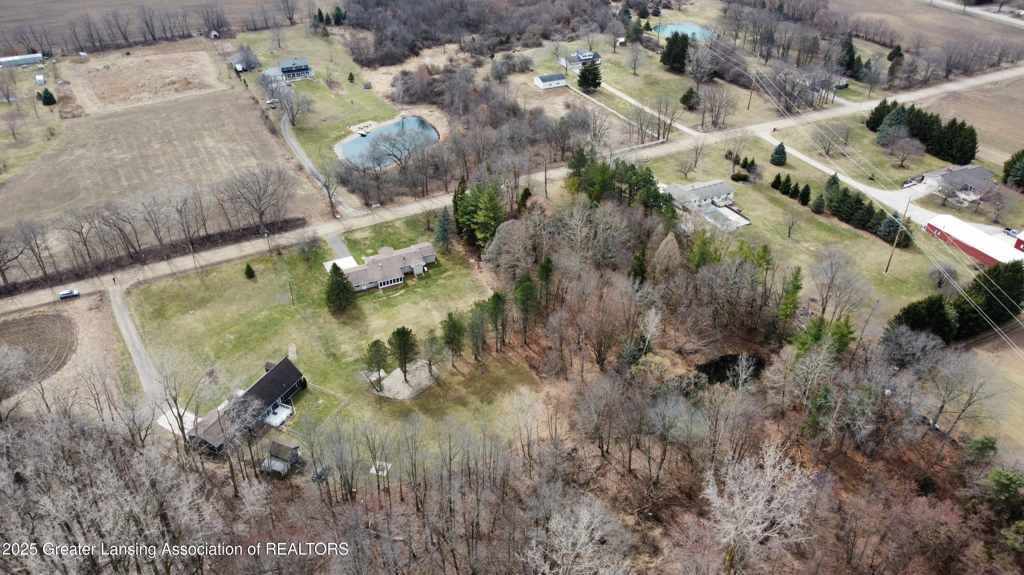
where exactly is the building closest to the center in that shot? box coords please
[343,242,437,291]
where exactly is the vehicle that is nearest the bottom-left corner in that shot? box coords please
[56,288,81,300]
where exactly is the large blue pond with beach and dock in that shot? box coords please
[342,116,440,169]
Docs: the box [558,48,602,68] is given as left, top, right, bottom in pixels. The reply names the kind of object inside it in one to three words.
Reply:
house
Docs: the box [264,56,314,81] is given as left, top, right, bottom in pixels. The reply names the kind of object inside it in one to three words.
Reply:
house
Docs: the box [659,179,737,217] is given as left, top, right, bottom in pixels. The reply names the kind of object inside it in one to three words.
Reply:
building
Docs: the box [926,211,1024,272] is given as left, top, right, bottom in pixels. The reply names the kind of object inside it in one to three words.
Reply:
barn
